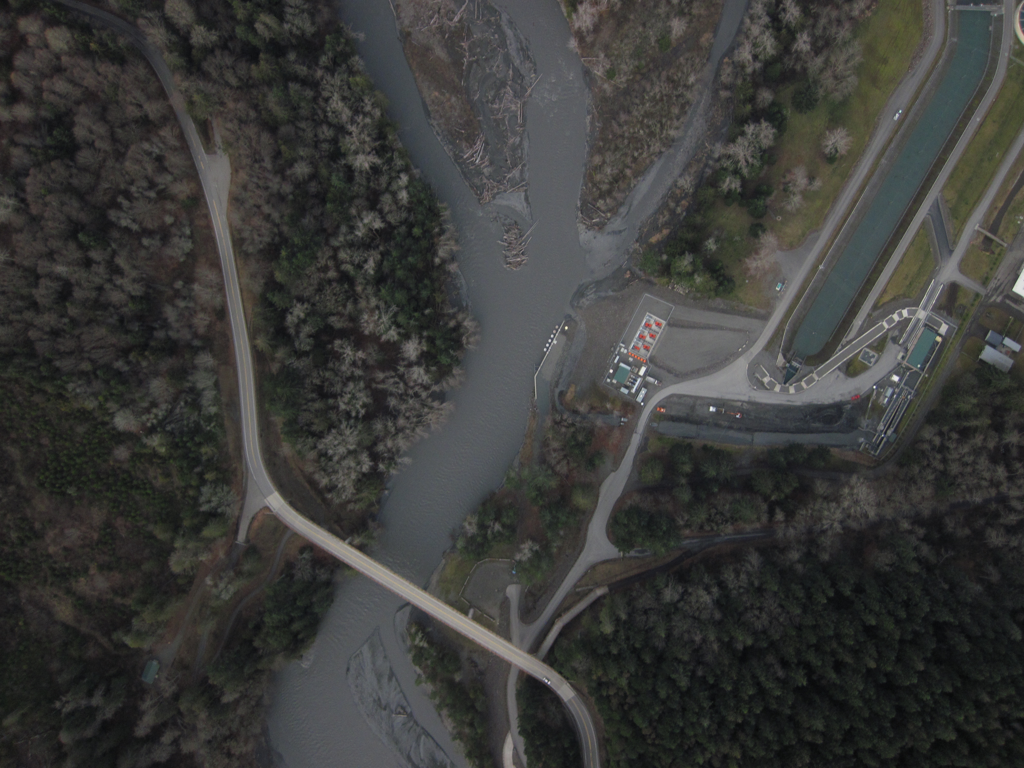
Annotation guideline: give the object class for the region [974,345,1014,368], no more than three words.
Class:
shed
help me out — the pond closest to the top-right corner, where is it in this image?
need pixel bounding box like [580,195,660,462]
[776,0,992,366]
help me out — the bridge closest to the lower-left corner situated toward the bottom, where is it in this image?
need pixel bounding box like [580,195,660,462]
[265,491,577,704]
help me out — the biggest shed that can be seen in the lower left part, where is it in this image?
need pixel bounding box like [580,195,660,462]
[142,659,163,684]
